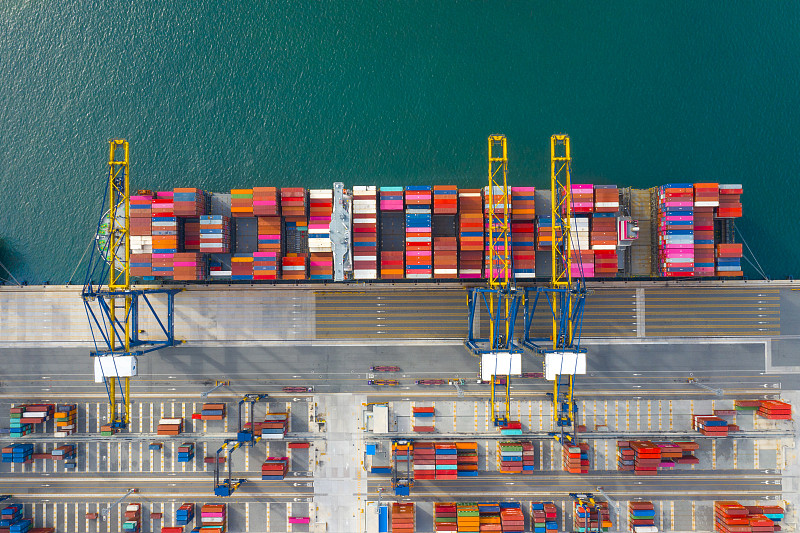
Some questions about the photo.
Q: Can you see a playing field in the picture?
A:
No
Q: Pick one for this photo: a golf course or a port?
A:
port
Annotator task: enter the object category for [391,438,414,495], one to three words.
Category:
container crane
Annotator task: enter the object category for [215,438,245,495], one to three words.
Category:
container crane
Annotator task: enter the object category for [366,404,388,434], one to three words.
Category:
building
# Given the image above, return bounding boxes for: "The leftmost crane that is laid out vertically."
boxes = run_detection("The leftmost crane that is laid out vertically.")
[80,136,184,429]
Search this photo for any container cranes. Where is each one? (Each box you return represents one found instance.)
[391,438,414,495]
[215,438,245,495]
[514,134,590,427]
[572,492,603,533]
[238,395,267,449]
[460,134,523,427]
[80,136,184,429]
[549,393,580,447]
